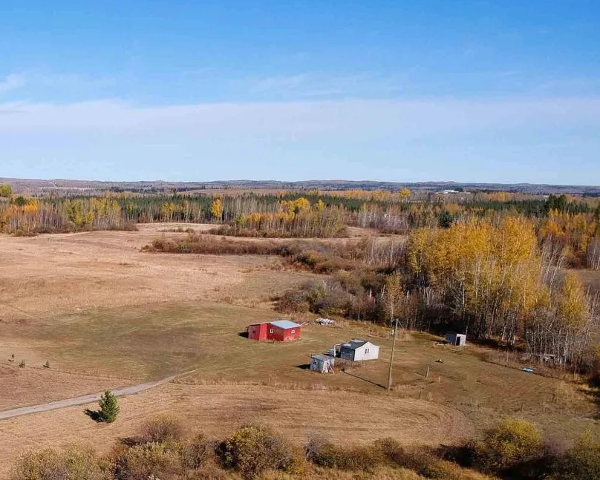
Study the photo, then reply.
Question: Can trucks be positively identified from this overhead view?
No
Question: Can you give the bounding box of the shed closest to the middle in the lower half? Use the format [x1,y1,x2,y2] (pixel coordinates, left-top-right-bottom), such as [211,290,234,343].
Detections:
[247,318,306,341]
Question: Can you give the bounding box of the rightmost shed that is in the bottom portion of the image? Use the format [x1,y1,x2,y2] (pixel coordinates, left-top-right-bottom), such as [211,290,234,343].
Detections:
[443,332,469,346]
